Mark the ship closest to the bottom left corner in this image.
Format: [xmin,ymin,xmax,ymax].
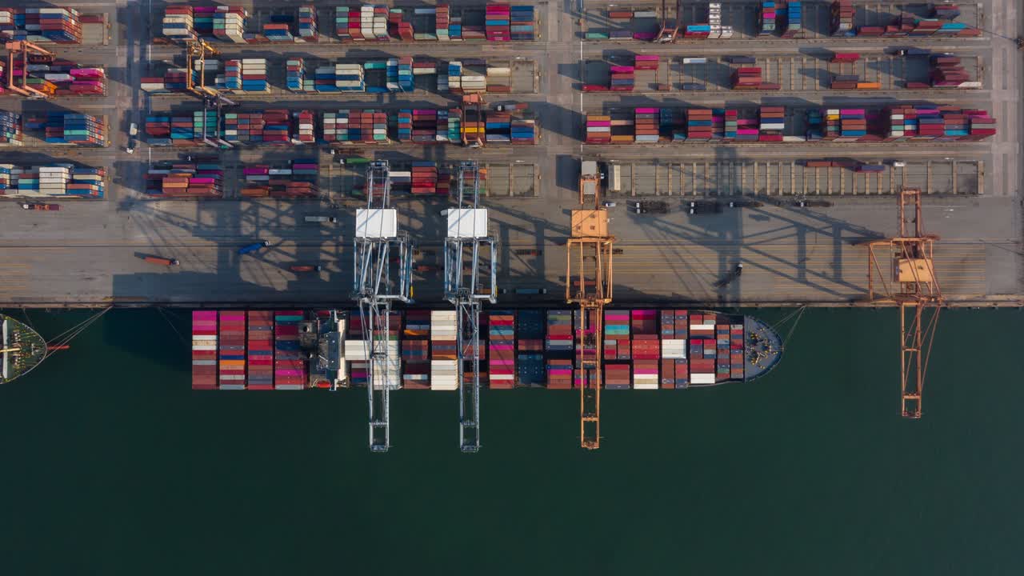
[0,315,69,384]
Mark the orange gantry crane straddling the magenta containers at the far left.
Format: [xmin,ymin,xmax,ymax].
[4,38,51,101]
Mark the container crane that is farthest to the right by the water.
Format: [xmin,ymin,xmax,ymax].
[843,185,943,419]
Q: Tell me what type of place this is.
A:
port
